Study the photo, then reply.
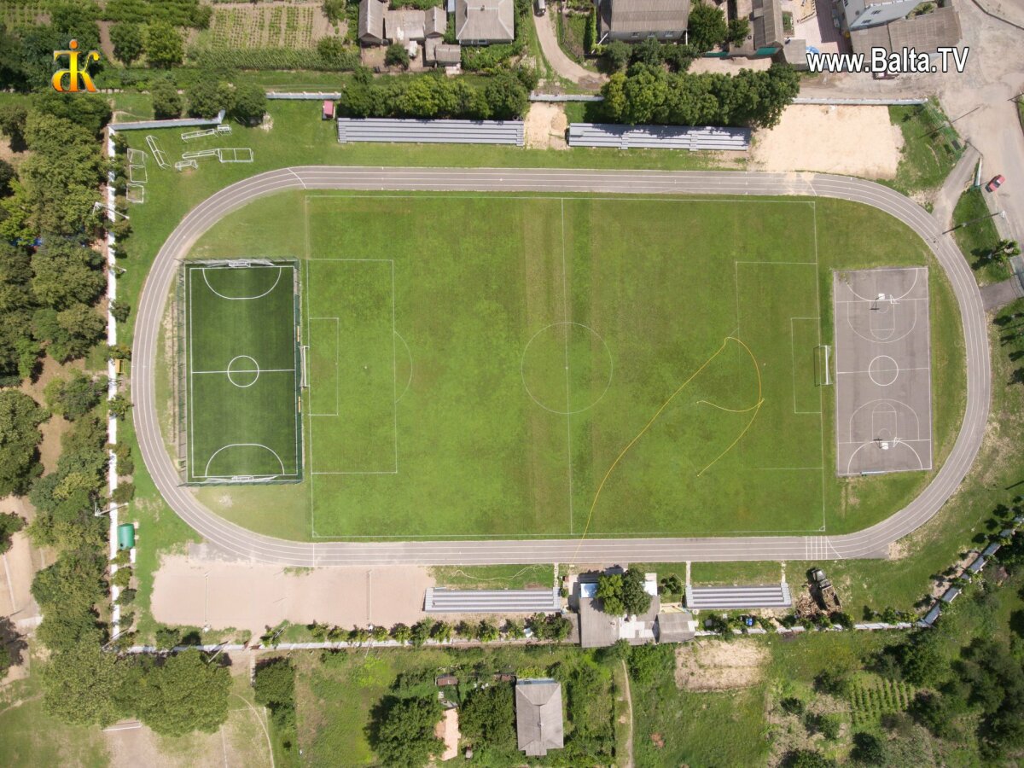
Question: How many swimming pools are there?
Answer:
none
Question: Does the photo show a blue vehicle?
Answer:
No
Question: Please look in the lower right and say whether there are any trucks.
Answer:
Yes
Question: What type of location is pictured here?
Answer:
sports ground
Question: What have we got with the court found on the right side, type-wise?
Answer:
basketball court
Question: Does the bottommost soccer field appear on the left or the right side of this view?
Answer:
left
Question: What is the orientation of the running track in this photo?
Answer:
from side to side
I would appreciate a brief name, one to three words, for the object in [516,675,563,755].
house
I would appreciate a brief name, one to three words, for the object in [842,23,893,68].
building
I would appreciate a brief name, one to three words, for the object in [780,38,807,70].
building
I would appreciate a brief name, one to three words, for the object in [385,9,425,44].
shed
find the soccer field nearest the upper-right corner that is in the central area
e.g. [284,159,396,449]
[305,193,830,541]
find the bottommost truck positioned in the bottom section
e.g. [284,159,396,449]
[810,565,844,613]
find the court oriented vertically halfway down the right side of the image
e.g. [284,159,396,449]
[833,266,933,477]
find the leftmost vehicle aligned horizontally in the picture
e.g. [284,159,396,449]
[875,68,900,81]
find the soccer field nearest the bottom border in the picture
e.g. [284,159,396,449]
[98,707,270,768]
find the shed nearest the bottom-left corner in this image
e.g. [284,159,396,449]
[114,523,138,553]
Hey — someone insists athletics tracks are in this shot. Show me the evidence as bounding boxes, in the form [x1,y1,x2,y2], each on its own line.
[131,166,991,566]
